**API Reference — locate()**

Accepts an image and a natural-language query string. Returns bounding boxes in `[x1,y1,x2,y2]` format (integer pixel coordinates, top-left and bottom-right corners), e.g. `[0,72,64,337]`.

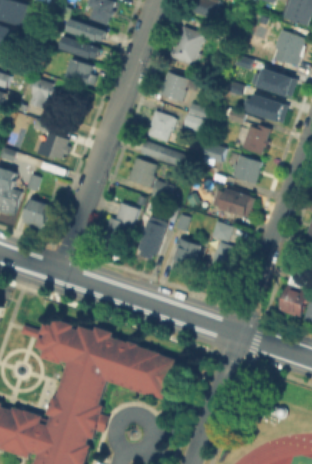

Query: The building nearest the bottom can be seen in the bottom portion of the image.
[0,318,174,464]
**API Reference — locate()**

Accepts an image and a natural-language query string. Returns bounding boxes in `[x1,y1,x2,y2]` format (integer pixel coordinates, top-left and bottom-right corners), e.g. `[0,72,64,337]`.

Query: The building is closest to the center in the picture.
[140,218,167,257]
